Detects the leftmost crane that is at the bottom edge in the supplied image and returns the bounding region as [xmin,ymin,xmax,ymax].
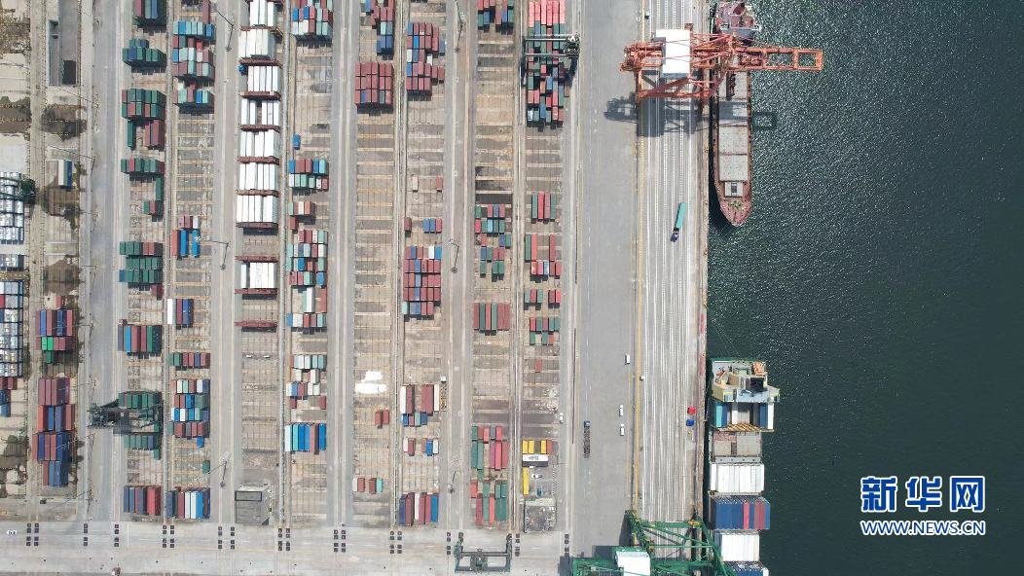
[456,533,514,573]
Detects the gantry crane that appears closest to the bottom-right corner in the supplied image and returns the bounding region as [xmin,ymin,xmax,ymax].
[572,506,751,576]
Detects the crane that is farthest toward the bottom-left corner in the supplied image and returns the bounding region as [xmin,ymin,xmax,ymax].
[87,398,169,431]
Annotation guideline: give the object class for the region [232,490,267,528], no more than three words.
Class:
building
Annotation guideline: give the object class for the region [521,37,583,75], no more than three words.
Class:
container crane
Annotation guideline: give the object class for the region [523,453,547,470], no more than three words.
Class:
building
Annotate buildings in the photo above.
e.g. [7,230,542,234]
[57,0,80,85]
[523,453,547,470]
[232,490,267,528]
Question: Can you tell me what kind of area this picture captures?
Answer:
port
